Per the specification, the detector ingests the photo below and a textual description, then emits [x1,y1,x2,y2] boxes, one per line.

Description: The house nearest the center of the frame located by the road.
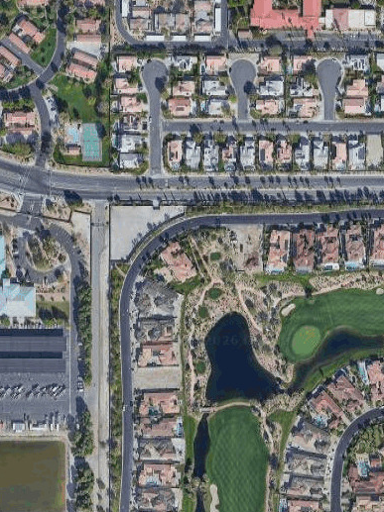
[160,241,198,279]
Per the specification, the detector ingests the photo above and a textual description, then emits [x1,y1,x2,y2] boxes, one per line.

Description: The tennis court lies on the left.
[82,122,101,161]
